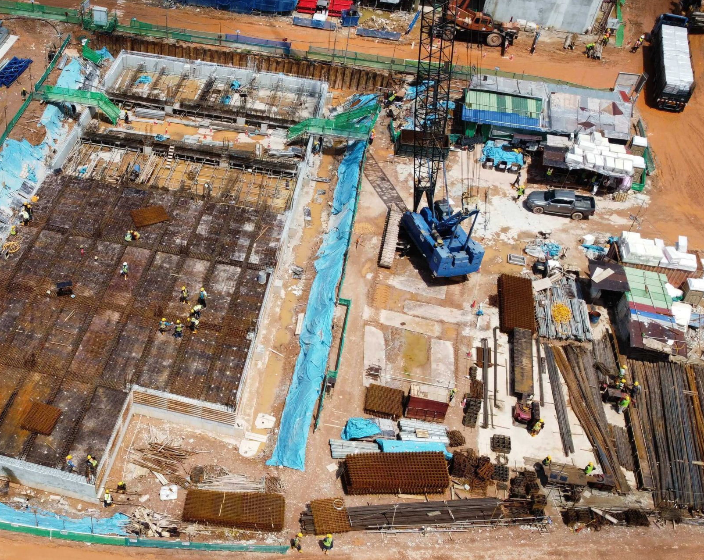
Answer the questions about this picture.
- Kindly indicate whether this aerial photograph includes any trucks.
Yes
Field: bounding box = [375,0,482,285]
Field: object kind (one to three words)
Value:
crane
